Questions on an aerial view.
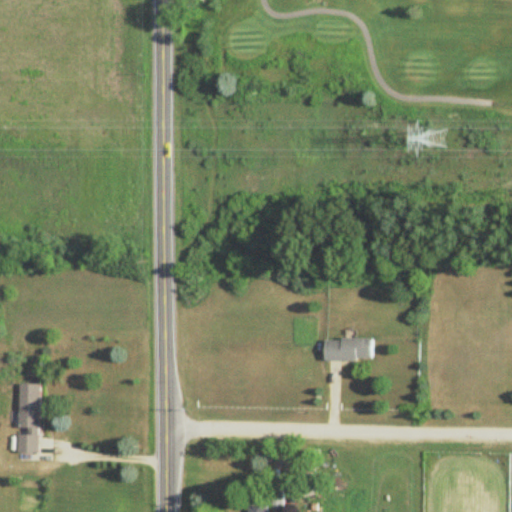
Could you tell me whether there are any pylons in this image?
Yes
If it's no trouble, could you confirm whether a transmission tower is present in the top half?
Yes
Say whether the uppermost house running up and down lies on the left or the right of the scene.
left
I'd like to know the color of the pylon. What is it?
white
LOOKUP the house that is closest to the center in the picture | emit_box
[322,332,374,360]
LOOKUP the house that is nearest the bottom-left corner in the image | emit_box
[18,384,44,455]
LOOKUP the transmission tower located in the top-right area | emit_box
[408,120,448,158]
